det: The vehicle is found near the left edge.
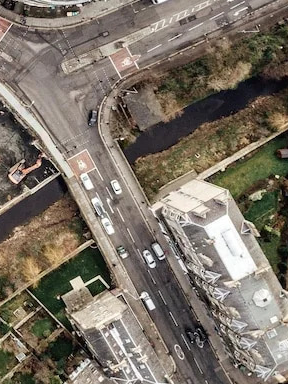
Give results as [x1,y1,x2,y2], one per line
[7,148,50,186]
